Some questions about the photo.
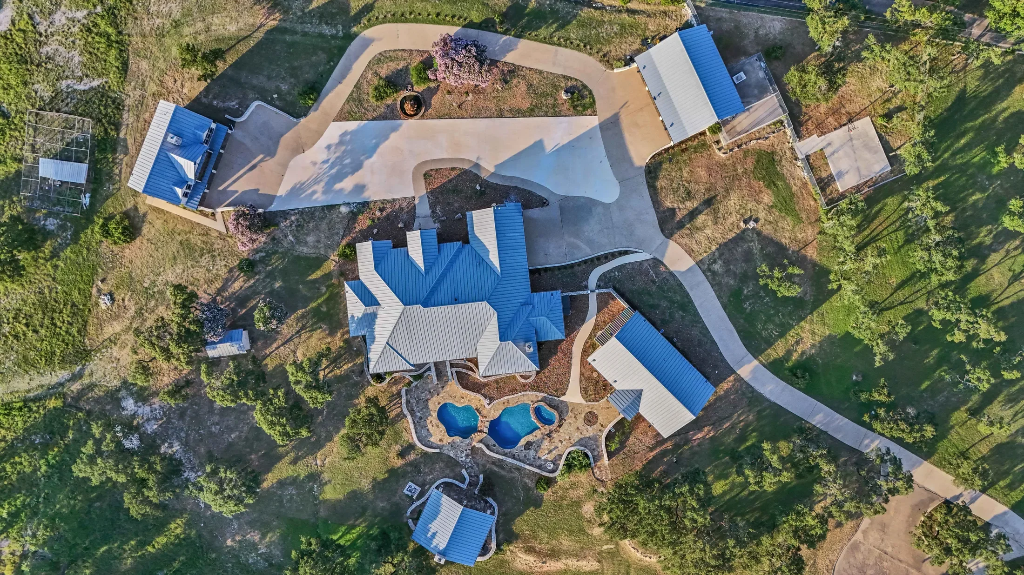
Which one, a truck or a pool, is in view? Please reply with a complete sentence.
I can see a pool in this picture.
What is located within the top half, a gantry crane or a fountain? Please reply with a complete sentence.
You can see a fountain within the top half.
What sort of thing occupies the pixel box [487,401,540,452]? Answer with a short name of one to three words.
swimming pool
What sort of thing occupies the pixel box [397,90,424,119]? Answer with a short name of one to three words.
fountain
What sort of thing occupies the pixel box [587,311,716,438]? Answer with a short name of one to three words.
building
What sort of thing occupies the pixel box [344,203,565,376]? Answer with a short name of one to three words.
house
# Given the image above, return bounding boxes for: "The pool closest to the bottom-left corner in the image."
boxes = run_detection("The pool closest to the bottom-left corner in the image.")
[435,400,482,441]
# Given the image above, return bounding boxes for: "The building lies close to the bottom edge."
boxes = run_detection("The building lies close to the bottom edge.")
[411,488,495,567]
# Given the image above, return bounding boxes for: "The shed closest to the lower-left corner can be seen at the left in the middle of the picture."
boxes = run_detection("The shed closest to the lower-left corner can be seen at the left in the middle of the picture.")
[203,329,252,358]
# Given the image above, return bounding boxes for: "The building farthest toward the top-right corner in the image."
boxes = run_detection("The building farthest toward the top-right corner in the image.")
[635,24,745,143]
